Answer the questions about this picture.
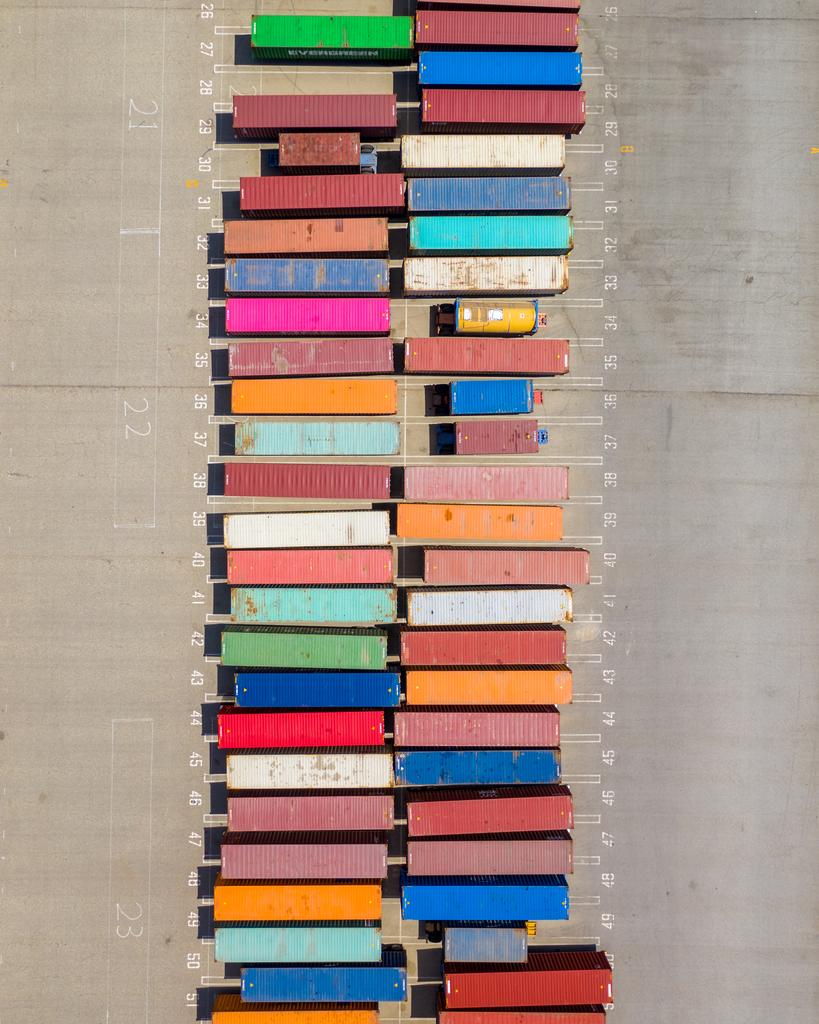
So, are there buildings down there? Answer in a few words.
No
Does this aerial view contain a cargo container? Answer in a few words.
Yes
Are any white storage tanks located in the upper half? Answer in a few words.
No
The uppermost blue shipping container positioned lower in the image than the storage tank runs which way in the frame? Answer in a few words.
from left to right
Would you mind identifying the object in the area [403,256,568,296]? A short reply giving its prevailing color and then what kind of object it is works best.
white shipping container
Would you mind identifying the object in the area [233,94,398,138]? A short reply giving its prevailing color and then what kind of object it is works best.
red shipping container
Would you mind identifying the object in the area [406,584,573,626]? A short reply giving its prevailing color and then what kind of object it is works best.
white shipping container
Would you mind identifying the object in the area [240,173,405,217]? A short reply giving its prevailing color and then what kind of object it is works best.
red shipping container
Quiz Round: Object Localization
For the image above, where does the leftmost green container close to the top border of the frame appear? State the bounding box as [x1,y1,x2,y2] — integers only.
[251,15,415,60]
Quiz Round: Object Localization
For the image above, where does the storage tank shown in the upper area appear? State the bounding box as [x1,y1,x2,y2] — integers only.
[458,303,535,333]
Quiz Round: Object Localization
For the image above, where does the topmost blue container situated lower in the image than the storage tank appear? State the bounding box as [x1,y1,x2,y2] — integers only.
[449,379,533,415]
